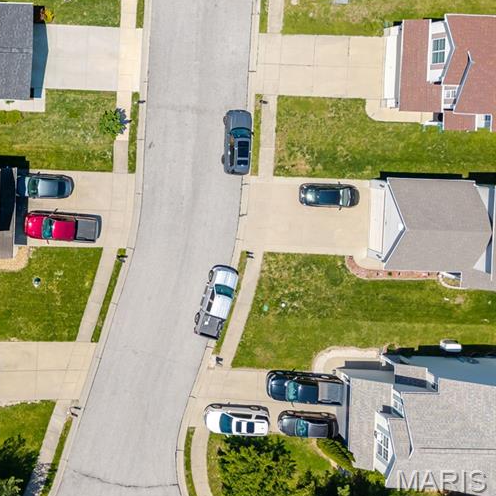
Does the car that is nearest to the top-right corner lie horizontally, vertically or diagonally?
horizontally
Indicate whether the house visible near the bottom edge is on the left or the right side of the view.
right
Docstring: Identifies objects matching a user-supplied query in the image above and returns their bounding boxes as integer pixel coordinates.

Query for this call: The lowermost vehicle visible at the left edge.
[24,211,99,242]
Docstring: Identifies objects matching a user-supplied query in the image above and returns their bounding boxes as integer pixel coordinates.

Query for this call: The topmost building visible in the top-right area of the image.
[383,14,496,133]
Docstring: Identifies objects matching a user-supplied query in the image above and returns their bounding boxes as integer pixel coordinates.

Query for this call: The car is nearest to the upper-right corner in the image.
[296,182,357,210]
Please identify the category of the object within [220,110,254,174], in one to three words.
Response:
car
